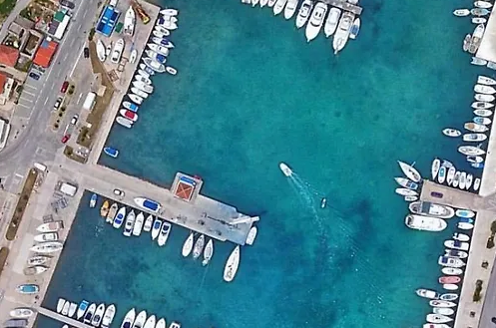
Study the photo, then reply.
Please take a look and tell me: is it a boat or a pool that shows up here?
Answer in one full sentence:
Looking from above, you can make out a boat.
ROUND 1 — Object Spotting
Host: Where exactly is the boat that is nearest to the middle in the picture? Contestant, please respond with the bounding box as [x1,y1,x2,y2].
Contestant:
[280,163,294,178]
